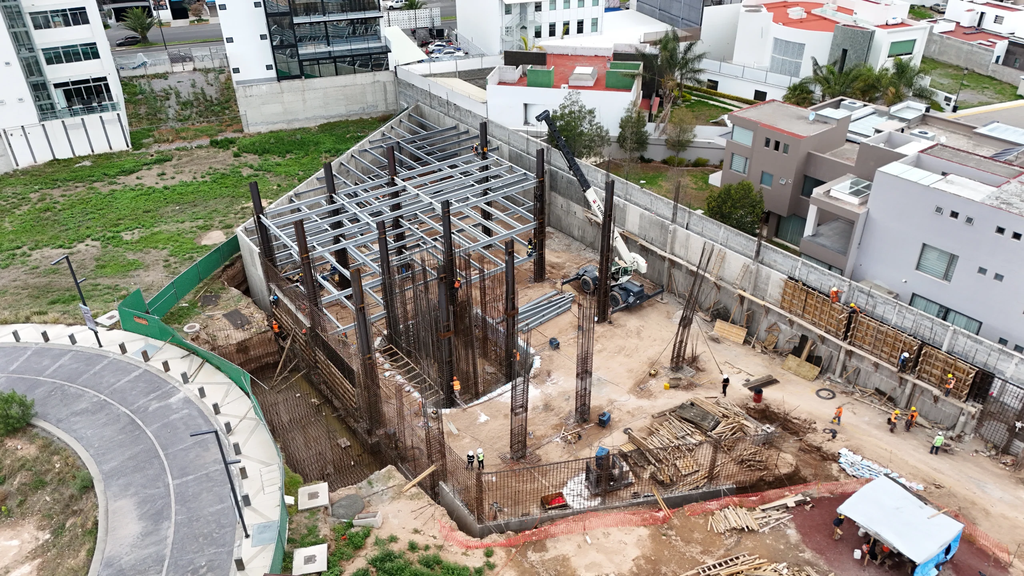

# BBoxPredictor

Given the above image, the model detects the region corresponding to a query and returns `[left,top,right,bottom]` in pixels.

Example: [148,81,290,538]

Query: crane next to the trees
[538,110,668,317]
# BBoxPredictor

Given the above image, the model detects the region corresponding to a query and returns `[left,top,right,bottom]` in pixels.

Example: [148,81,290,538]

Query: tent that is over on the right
[824,474,966,576]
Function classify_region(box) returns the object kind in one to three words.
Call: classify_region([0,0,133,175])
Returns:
building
